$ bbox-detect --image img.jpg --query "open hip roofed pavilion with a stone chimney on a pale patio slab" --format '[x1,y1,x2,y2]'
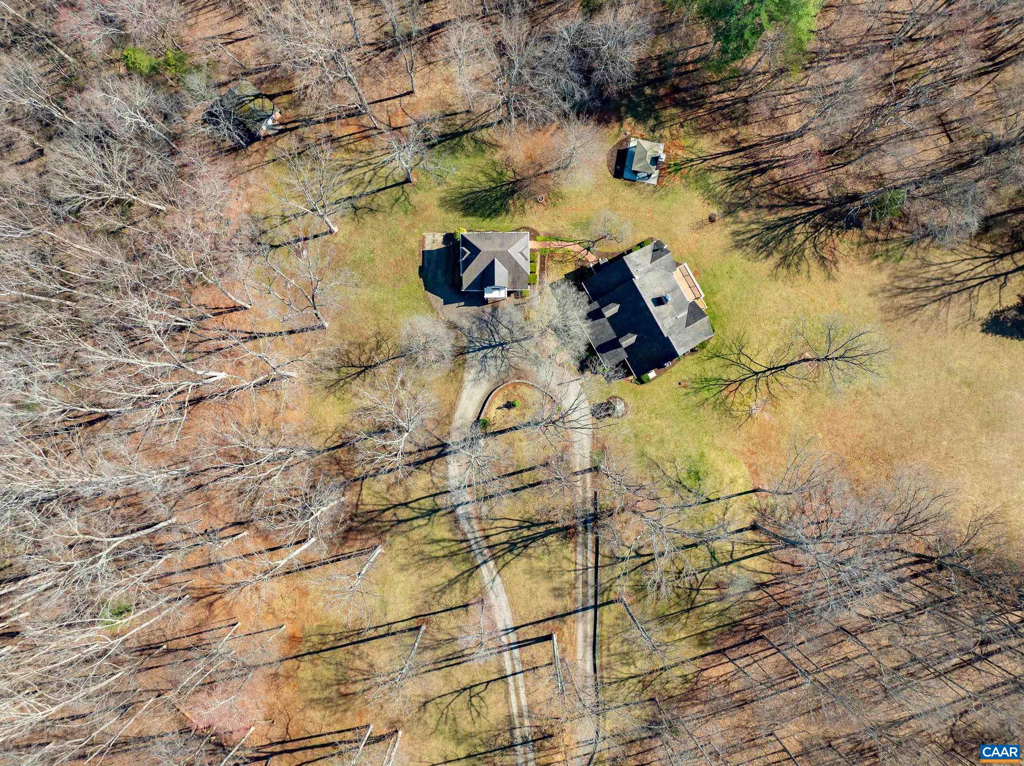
[623,137,666,184]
